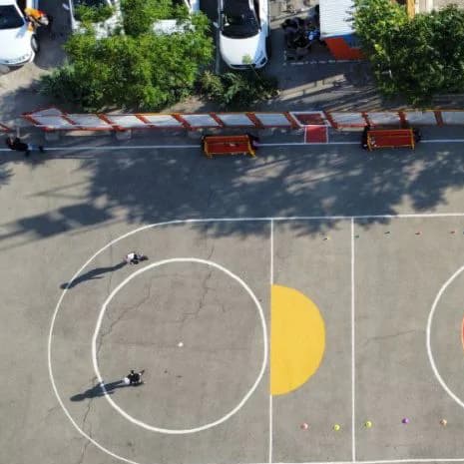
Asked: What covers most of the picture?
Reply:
paved ground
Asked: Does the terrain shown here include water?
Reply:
No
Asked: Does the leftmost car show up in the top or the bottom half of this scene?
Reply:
top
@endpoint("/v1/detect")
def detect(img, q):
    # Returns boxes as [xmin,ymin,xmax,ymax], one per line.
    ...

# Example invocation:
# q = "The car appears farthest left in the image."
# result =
[0,0,42,69]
